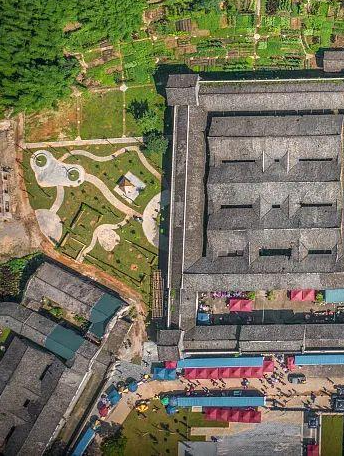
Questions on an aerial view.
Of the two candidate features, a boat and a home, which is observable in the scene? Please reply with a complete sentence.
The image shows a home.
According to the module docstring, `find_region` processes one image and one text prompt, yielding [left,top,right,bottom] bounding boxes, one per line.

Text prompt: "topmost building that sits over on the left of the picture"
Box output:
[114,171,147,204]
